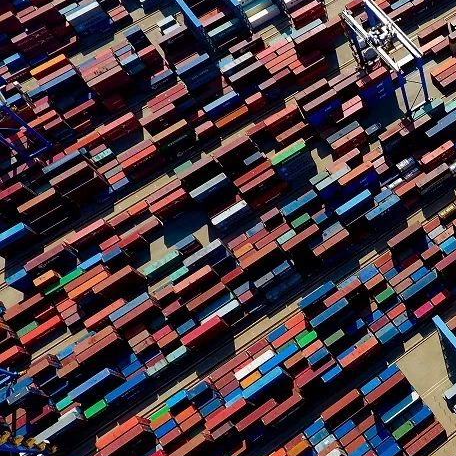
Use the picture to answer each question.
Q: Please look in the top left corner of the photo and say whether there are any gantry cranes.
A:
Yes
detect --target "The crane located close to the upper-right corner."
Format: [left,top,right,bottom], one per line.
[343,0,433,119]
